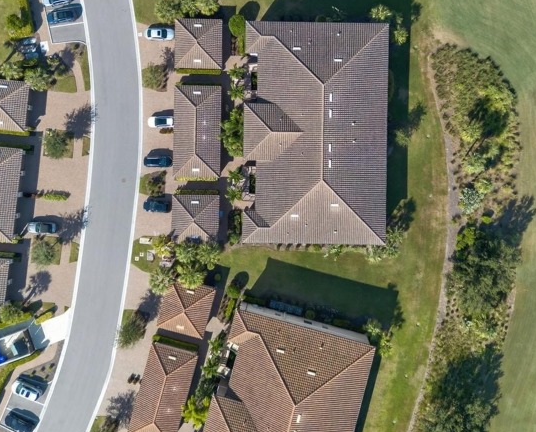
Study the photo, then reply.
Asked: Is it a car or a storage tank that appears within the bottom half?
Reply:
car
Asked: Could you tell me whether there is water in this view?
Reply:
No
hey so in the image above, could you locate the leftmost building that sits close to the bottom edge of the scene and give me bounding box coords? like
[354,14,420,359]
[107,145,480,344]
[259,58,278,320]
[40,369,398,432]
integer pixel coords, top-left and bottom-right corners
[130,341,199,432]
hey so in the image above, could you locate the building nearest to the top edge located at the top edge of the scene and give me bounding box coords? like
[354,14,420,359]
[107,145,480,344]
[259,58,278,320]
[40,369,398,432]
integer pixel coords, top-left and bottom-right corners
[174,18,223,69]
